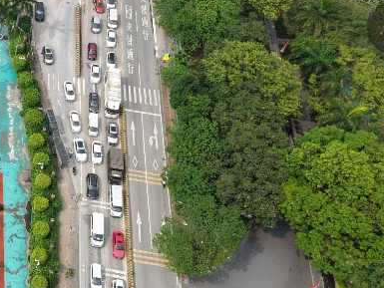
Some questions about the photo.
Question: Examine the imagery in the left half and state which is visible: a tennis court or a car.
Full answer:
You can see a car in the left half.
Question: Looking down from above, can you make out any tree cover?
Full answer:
Yes, some tree cover is visible.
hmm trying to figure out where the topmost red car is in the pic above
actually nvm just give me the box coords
[92,0,106,12]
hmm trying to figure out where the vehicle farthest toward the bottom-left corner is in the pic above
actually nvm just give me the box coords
[88,262,105,288]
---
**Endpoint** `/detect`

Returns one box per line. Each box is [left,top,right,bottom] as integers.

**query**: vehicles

[106,0,117,8]
[86,111,101,137]
[90,13,103,33]
[89,63,102,84]
[102,67,125,115]
[88,262,105,288]
[89,211,107,247]
[106,8,119,28]
[110,279,124,288]
[87,93,101,114]
[92,0,106,12]
[110,232,126,260]
[105,50,118,67]
[107,183,126,218]
[90,141,104,164]
[105,123,120,145]
[86,42,99,61]
[68,111,83,133]
[62,82,77,102]
[85,174,101,199]
[105,29,118,47]
[106,145,127,184]
[34,2,45,20]
[72,139,88,162]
